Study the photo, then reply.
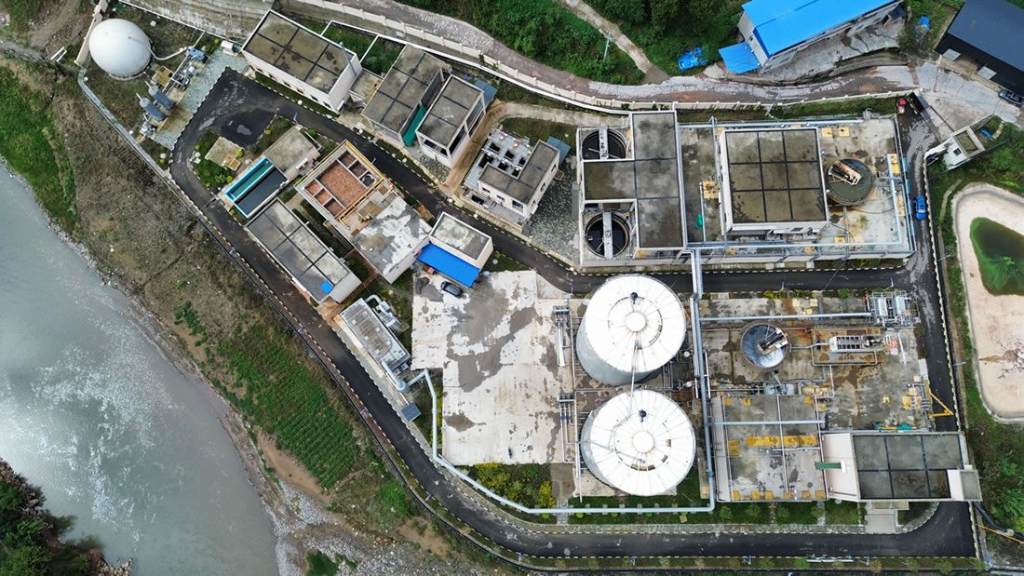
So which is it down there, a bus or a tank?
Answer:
tank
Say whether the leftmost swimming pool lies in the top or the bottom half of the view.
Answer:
top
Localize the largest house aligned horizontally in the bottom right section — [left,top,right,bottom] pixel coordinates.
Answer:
[816,430,982,506]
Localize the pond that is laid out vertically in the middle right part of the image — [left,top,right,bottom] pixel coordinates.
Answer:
[951,181,1024,424]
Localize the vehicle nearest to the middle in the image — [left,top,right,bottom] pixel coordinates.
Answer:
[439,280,465,299]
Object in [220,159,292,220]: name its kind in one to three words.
swimming pool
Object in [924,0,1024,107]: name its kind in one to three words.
building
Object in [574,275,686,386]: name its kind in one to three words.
storage tank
